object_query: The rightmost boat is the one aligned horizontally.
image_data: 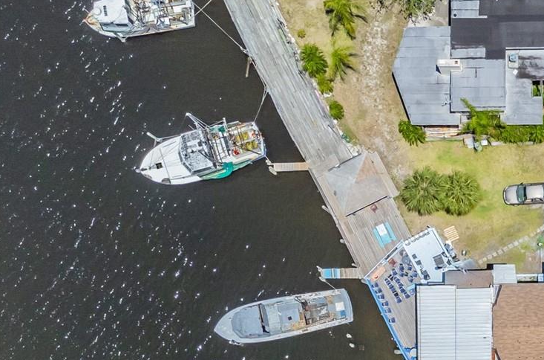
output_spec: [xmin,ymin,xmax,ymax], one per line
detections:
[215,288,355,345]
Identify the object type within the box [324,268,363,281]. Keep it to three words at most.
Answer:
pier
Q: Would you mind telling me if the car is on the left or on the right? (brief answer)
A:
right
